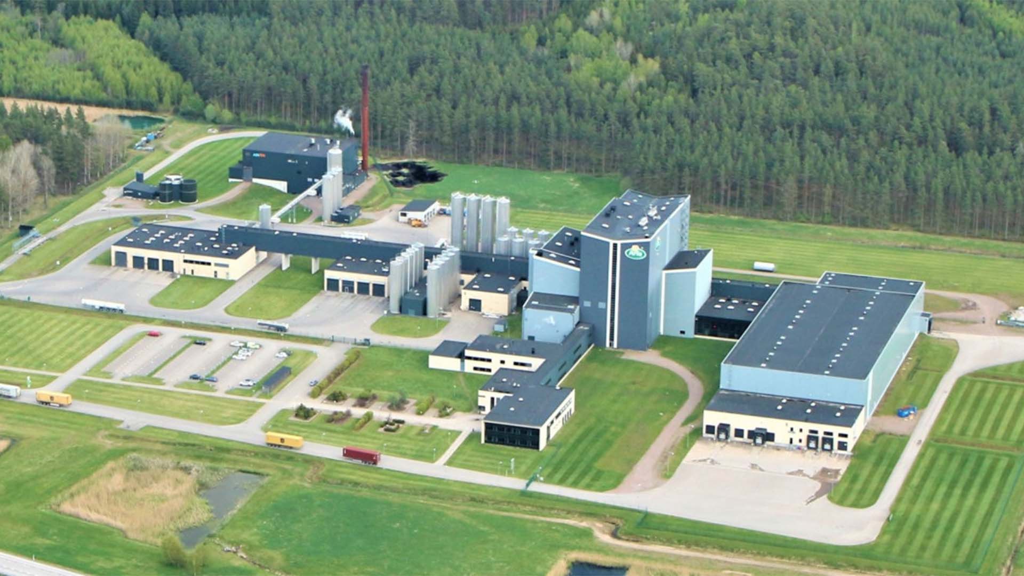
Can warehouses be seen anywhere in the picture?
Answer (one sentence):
Yes, the image includes a warehouse.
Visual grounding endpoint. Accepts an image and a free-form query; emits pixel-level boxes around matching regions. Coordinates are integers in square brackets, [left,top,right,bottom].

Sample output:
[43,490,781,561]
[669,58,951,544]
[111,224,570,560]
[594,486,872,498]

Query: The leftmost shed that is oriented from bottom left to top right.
[262,368,295,395]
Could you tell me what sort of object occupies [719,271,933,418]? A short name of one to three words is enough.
warehouse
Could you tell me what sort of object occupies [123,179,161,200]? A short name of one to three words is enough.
shed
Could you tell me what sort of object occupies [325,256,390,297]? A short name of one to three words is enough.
building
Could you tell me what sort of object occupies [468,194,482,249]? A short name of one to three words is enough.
silo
